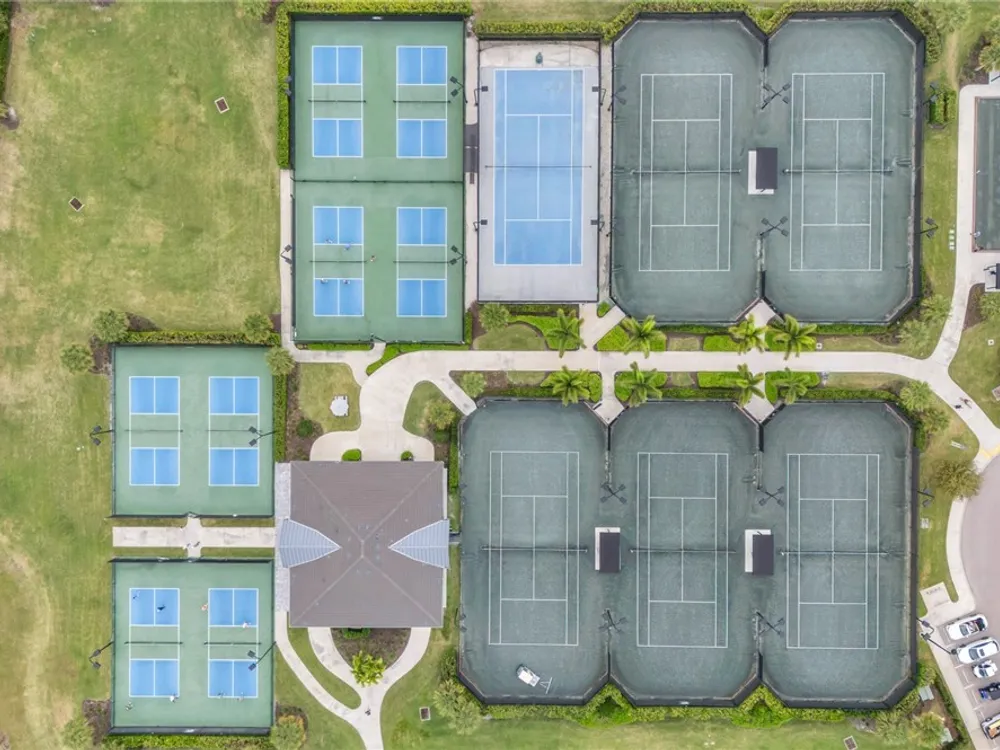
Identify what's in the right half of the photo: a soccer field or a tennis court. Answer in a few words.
tennis court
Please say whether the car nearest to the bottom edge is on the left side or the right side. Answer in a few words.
right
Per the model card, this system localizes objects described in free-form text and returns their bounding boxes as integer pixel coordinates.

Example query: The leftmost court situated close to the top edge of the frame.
[294,21,379,181]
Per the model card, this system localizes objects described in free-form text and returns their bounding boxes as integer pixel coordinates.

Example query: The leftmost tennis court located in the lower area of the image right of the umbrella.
[460,403,608,697]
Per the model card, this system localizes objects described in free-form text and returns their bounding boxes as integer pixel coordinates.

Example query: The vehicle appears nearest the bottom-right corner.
[978,712,1000,737]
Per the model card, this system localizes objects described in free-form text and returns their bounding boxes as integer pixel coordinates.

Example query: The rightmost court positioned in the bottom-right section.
[759,405,911,701]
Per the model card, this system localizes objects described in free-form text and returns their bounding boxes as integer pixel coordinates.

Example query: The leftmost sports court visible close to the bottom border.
[114,559,194,728]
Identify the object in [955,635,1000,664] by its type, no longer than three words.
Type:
car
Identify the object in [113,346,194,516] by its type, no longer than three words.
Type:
sports court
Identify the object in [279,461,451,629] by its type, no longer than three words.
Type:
building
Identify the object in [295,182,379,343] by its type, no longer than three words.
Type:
sports court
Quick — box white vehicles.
[955,635,1000,664]
[971,659,999,679]
[978,712,1000,737]
[515,664,543,688]
[943,611,990,638]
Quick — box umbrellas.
[331,397,350,416]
